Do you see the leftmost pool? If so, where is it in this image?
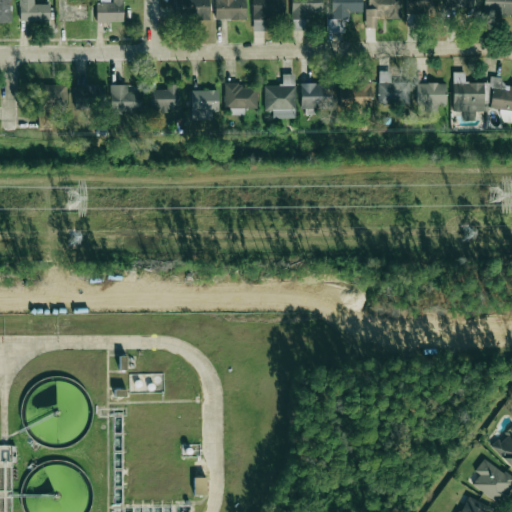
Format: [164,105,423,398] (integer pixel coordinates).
[453,112,484,129]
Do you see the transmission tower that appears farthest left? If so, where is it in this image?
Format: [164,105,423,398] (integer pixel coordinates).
[64,178,84,217]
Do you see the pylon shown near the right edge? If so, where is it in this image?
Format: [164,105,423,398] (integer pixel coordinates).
[485,176,512,214]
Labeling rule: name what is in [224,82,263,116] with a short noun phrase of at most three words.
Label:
house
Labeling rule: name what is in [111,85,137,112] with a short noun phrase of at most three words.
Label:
house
